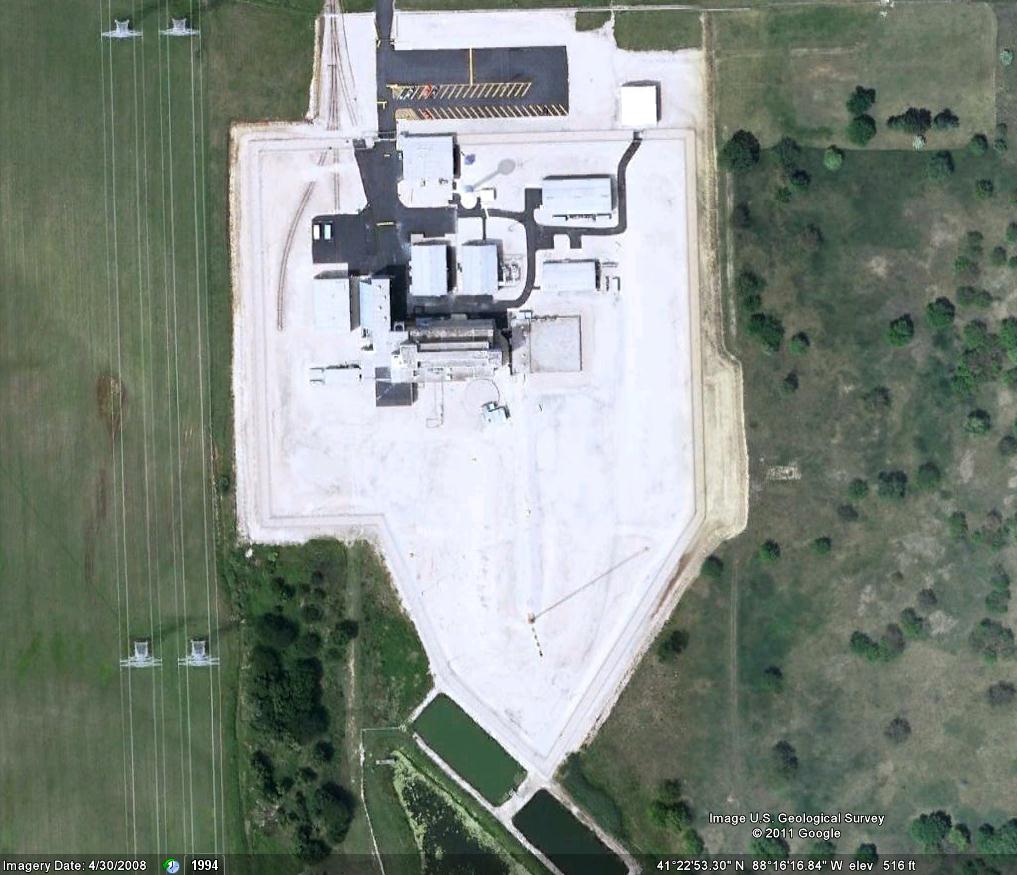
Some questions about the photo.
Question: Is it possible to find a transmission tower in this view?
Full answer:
Yes, looking at the shot, I can spot a transmission tower.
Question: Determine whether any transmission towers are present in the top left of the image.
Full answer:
Yes, the scene does show a transmission tower in the top left of the image.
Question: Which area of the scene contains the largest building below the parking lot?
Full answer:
The largest building below the parking lot is located in the center region of the scene.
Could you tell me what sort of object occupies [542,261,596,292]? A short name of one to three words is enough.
building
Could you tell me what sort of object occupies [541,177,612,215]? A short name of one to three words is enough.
building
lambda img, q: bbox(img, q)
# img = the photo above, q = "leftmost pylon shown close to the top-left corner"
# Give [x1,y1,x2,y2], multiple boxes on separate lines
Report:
[100,11,142,39]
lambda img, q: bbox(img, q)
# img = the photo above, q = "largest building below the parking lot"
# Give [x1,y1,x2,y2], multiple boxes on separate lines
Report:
[372,312,502,406]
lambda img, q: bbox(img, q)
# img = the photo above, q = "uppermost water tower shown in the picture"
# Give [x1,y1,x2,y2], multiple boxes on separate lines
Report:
[461,183,479,208]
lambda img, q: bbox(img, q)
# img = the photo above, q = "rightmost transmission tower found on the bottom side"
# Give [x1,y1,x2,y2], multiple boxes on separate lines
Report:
[178,633,219,666]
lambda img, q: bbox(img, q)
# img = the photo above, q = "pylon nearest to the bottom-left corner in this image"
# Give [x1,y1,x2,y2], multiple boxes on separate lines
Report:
[121,634,162,667]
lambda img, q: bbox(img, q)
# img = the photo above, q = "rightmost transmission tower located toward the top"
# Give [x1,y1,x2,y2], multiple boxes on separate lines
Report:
[159,10,201,38]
